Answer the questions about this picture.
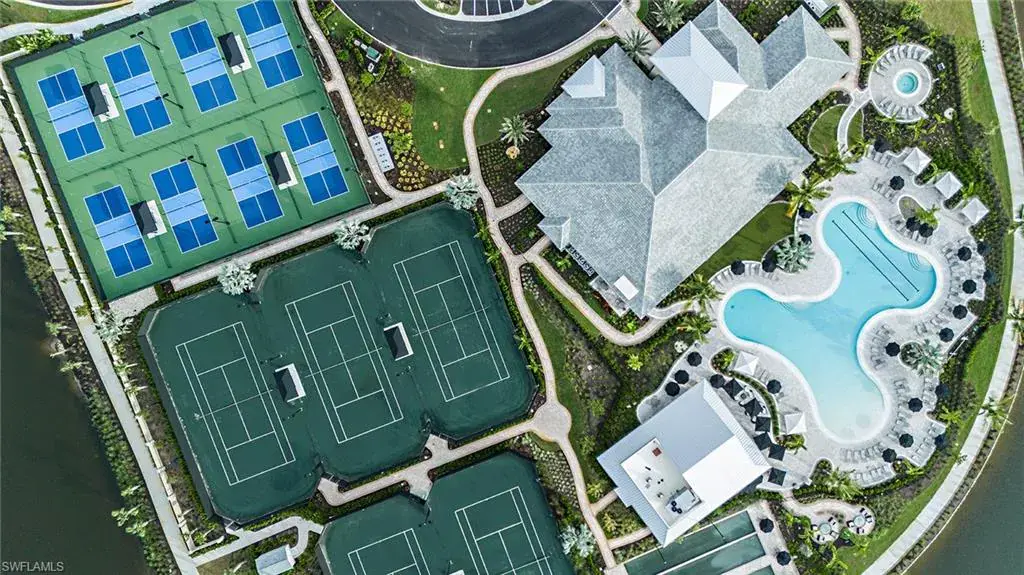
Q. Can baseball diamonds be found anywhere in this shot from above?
No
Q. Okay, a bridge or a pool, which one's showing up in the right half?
pool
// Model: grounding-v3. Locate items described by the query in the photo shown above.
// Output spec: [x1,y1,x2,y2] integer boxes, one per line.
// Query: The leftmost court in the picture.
[37,67,105,160]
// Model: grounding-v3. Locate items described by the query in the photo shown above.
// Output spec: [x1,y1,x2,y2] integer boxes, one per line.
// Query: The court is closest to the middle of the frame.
[391,238,514,407]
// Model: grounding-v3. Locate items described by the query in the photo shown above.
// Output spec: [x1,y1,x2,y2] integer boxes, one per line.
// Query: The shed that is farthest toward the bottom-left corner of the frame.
[255,538,300,575]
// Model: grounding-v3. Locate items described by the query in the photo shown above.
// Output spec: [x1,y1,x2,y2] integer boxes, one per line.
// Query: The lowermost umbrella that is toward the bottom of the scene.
[775,550,790,565]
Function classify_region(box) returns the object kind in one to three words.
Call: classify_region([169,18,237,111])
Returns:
sports court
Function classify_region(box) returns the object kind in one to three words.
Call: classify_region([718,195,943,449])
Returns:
swimming pool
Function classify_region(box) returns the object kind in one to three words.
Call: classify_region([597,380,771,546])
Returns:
building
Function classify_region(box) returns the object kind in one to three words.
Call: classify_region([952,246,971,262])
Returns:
umbrella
